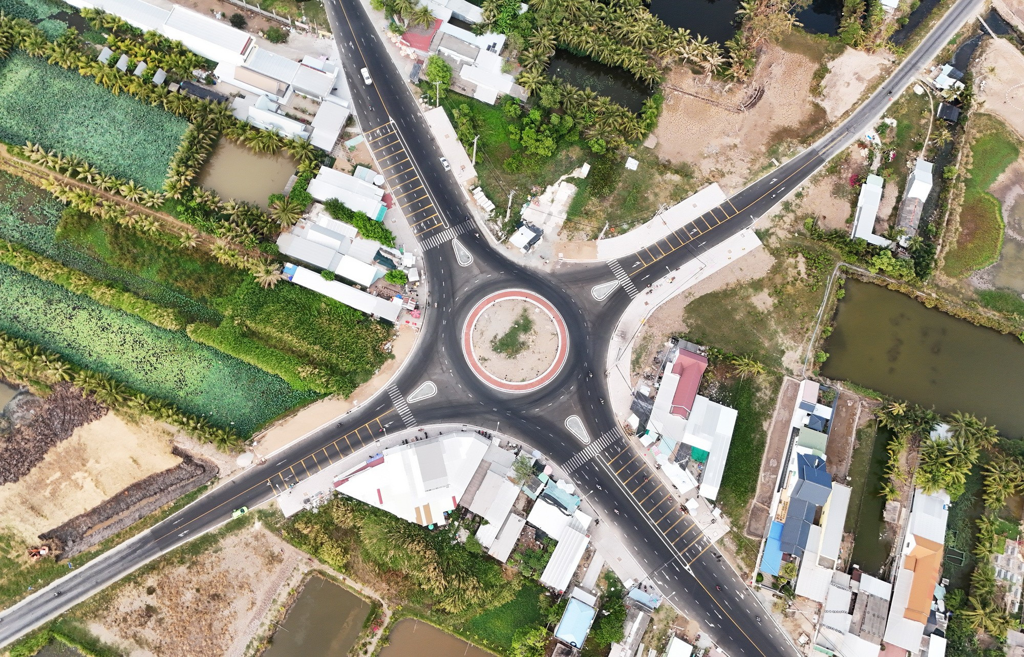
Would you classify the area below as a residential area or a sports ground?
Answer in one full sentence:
The area seen from above is a residential area.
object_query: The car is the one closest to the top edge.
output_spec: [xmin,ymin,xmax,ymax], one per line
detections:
[360,65,372,83]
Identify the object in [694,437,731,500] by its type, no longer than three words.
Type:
shed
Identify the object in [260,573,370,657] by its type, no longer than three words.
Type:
pond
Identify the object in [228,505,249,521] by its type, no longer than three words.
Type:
car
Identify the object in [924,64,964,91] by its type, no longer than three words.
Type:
building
